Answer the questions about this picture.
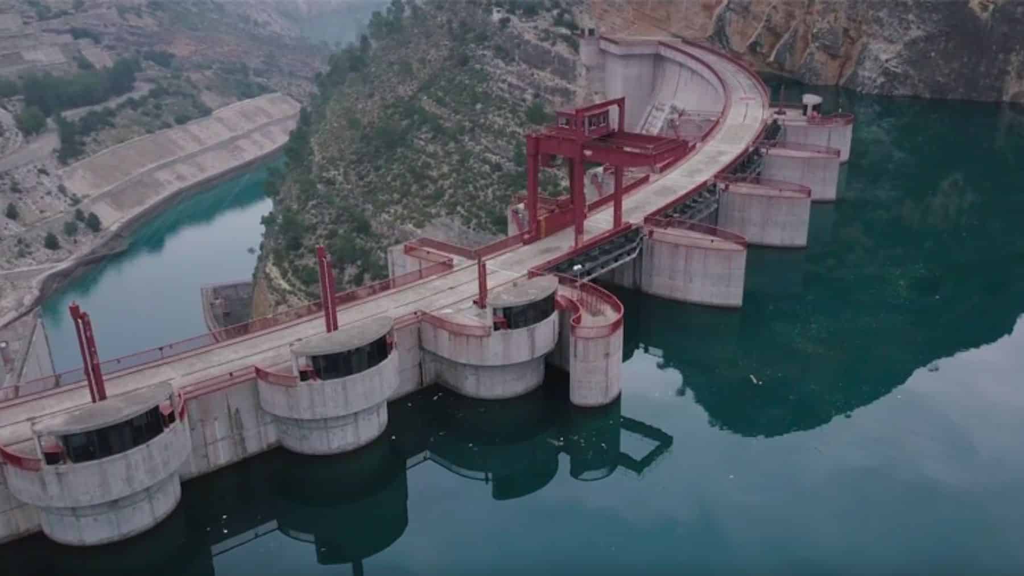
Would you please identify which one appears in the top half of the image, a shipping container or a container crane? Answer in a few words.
container crane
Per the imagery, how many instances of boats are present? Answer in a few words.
0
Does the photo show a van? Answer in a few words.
No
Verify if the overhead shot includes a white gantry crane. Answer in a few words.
No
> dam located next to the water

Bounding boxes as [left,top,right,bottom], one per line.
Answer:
[0,40,771,555]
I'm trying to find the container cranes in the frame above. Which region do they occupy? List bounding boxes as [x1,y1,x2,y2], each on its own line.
[524,92,702,248]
